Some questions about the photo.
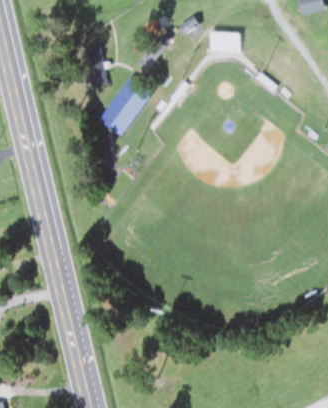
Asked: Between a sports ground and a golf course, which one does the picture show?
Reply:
sports ground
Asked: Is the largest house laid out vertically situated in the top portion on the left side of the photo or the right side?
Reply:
left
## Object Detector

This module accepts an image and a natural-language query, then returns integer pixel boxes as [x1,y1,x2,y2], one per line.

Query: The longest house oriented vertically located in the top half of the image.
[90,45,112,86]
